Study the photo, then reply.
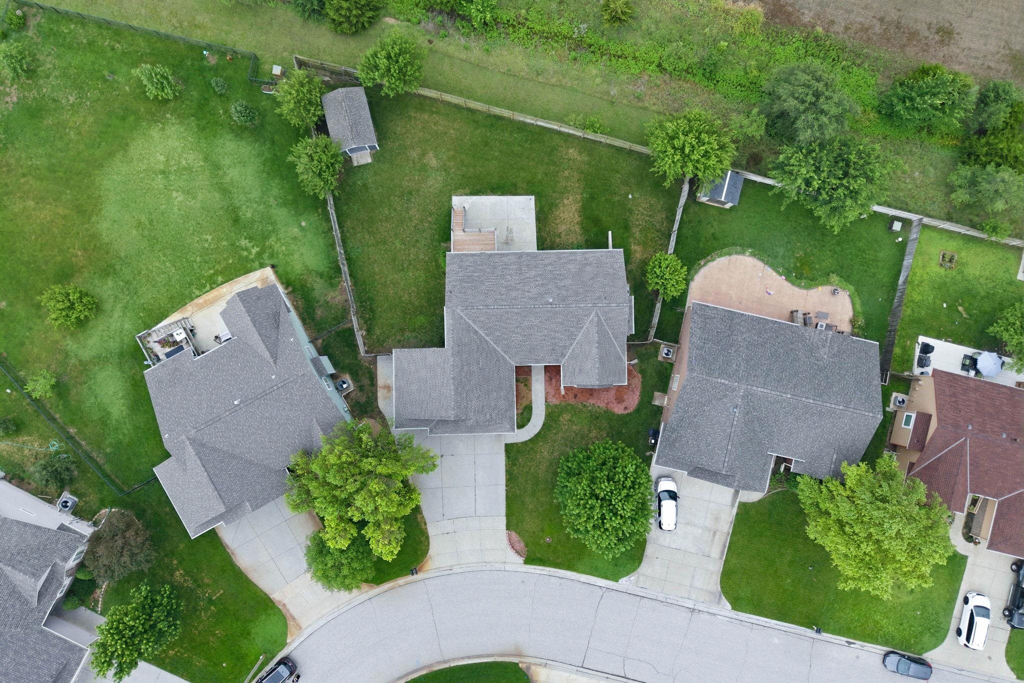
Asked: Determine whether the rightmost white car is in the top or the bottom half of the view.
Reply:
bottom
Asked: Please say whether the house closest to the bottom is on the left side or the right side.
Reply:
left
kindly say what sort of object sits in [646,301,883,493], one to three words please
house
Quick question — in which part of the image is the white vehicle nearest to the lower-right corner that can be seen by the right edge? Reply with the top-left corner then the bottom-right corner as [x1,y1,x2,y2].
[954,594,990,648]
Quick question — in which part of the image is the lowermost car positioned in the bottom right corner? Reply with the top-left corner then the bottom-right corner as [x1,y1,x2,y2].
[879,646,935,681]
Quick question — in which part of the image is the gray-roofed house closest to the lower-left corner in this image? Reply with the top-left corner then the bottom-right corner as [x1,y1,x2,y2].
[0,472,108,683]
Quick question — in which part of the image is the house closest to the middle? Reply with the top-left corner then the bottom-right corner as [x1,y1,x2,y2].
[392,232,637,436]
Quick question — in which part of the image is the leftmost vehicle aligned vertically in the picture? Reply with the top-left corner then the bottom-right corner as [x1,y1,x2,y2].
[654,475,681,531]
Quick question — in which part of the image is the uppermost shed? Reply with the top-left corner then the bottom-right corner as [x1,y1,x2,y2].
[323,87,380,166]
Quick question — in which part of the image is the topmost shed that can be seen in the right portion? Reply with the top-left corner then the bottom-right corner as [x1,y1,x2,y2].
[695,171,743,209]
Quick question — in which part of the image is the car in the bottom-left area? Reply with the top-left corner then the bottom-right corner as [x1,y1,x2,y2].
[251,648,299,683]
